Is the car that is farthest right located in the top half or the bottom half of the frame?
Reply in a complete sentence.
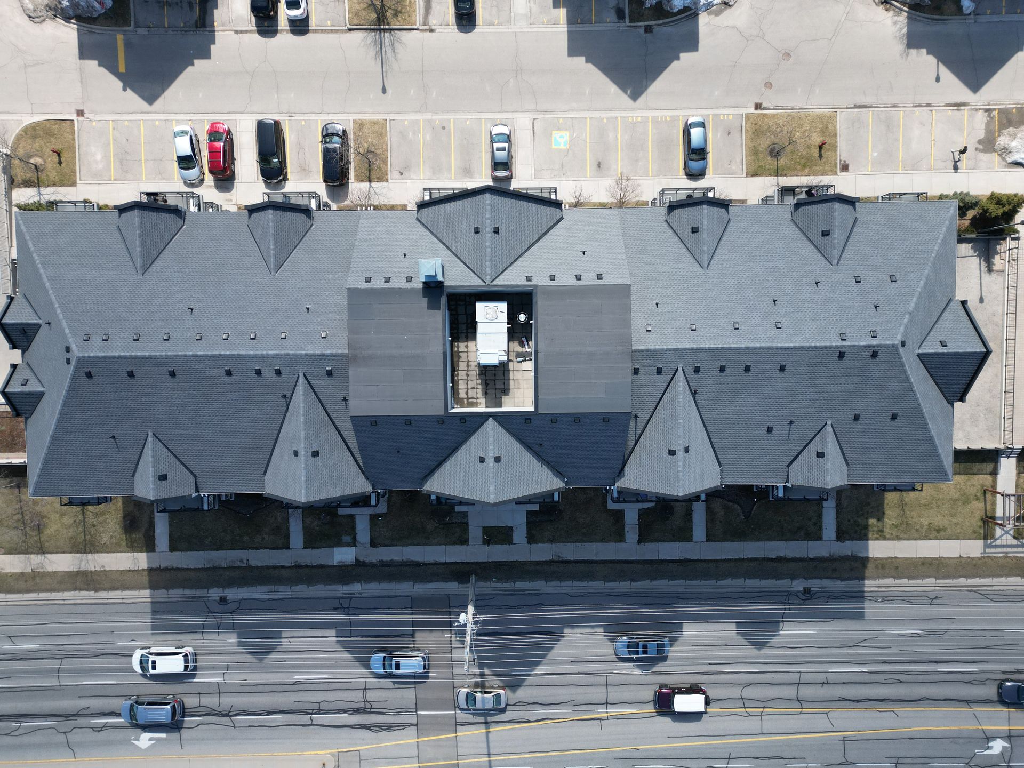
The car that is farthest right sits in the bottom half of the picture.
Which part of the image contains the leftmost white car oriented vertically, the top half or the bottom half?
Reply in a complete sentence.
Seen from above, the leftmost white car oriented vertically lies in the top half of the view.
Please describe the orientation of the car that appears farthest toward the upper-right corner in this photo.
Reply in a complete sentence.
What the image shows is the car that appears farthest toward the upper-right corner lying up and down.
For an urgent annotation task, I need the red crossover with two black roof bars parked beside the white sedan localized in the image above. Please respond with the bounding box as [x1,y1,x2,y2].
[202,121,236,180]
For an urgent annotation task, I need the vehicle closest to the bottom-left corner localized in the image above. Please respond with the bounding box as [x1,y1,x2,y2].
[123,694,184,726]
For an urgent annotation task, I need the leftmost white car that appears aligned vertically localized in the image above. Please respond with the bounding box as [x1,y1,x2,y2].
[172,124,206,186]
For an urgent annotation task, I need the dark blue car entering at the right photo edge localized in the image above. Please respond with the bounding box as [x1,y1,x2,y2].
[994,678,1024,706]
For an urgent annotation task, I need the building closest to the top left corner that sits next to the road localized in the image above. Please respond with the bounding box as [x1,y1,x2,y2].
[0,184,996,512]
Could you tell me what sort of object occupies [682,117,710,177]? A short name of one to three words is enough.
car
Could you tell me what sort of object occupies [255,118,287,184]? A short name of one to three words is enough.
car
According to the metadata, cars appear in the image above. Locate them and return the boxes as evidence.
[456,684,508,712]
[994,678,1024,706]
[614,632,669,661]
[202,121,236,180]
[454,0,477,20]
[488,124,514,182]
[123,694,184,726]
[682,117,710,177]
[255,118,287,184]
[318,123,349,187]
[285,0,311,23]
[134,647,195,678]
[373,648,429,678]
[251,0,280,23]
[172,124,206,186]
[653,684,707,714]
